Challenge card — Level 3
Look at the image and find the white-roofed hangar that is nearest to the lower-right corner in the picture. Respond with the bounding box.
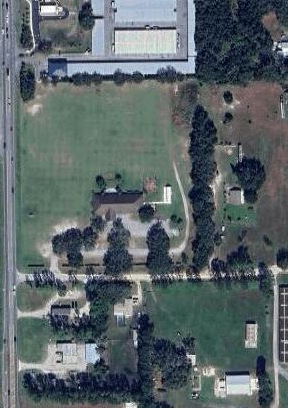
[226,375,251,395]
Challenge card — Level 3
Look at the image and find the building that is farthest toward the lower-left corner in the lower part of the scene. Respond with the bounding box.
[58,344,77,364]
